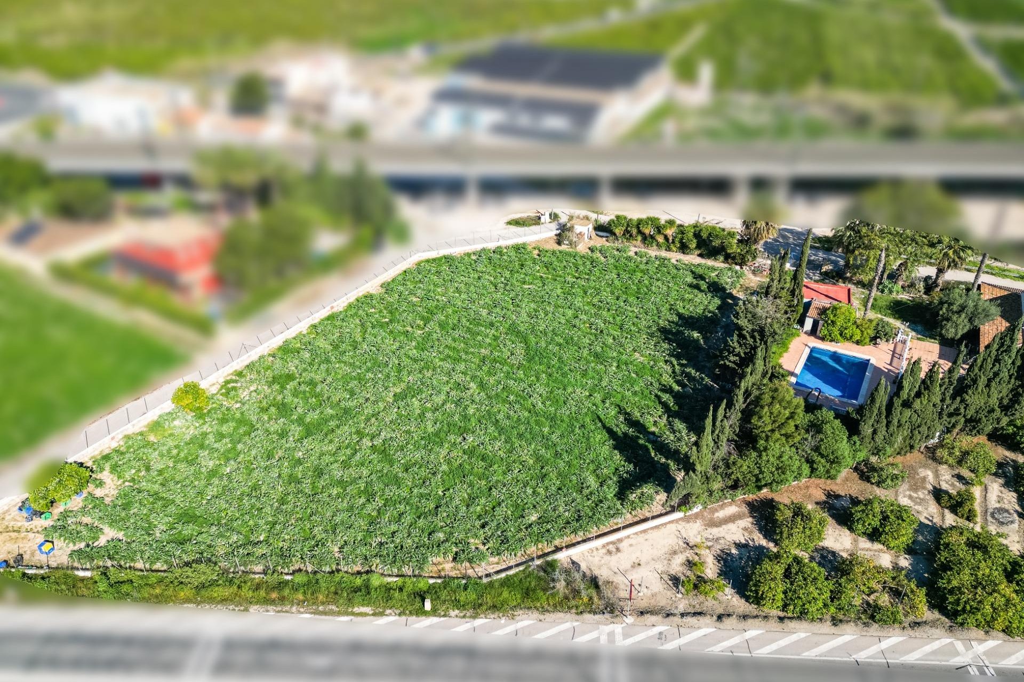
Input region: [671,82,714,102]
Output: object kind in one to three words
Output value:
building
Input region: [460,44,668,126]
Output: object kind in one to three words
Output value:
building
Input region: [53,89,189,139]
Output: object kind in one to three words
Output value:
house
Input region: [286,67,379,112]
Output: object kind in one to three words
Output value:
house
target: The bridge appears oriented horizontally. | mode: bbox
[0,140,1024,199]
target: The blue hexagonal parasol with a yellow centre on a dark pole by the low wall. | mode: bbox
[36,542,58,568]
